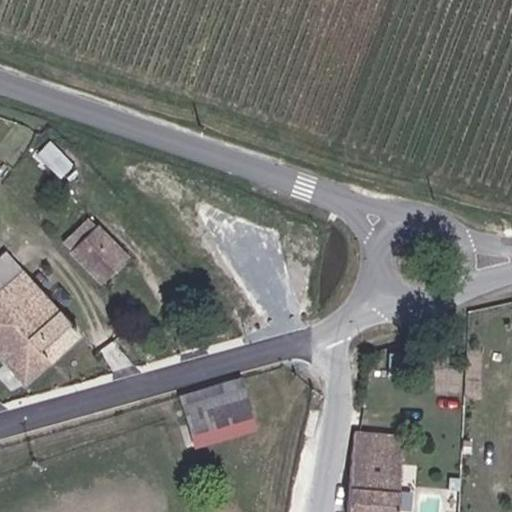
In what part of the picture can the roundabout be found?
right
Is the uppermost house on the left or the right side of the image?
left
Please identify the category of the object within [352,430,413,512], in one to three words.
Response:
house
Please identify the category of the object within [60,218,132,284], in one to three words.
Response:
barn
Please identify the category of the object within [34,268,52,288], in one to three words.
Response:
car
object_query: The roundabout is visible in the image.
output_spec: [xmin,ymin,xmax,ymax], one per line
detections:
[311,184,512,364]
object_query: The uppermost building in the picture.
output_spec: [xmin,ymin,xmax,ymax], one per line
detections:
[38,140,74,177]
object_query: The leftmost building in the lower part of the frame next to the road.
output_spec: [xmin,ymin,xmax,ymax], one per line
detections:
[0,250,83,392]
